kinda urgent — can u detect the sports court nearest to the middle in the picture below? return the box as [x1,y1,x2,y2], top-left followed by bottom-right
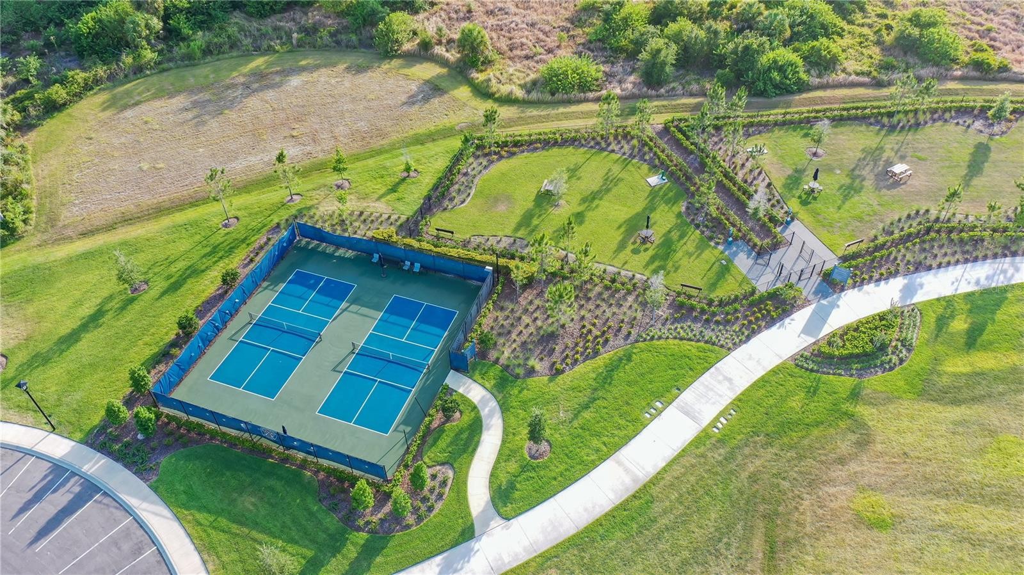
[317,295,458,435]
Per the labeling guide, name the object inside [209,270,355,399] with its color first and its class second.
blue sports court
